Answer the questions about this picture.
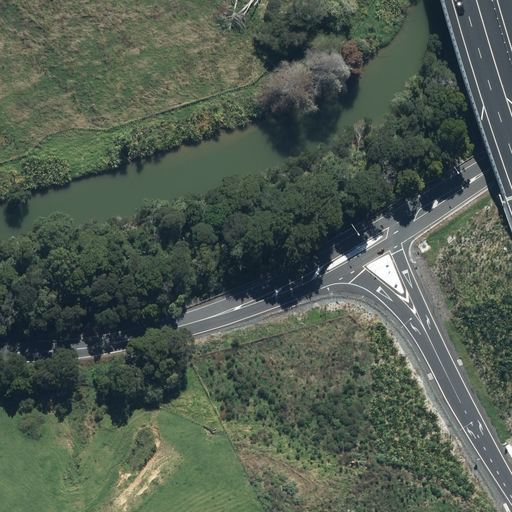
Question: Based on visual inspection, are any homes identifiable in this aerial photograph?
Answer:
No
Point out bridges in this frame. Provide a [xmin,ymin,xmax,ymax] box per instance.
[440,0,512,208]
